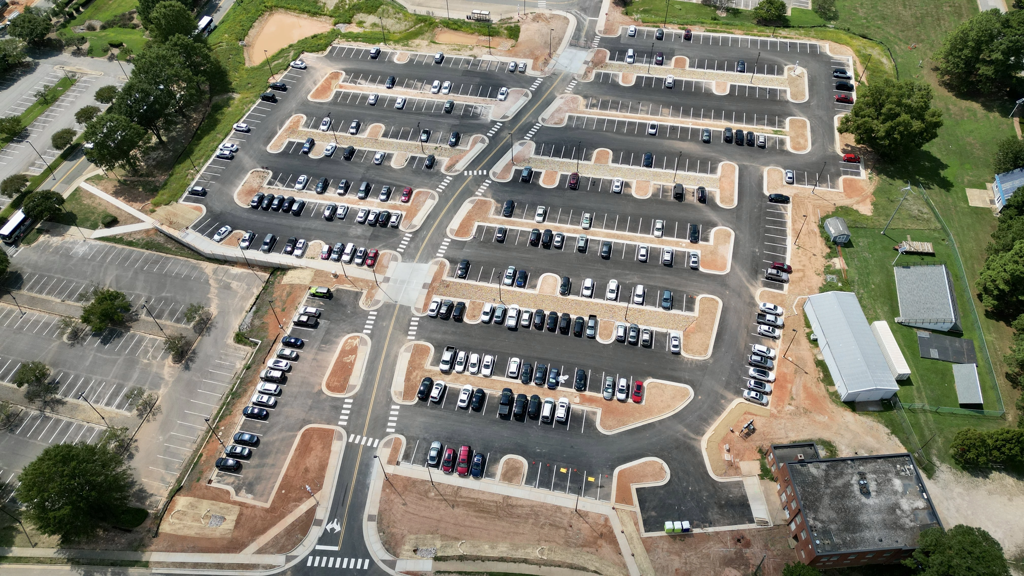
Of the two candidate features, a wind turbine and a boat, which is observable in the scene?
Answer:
wind turbine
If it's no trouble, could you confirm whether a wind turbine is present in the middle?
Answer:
No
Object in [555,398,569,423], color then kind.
white car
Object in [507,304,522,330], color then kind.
white vehicle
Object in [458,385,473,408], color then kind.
white car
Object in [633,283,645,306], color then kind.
white vehicle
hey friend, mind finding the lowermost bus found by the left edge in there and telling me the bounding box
[0,201,32,245]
